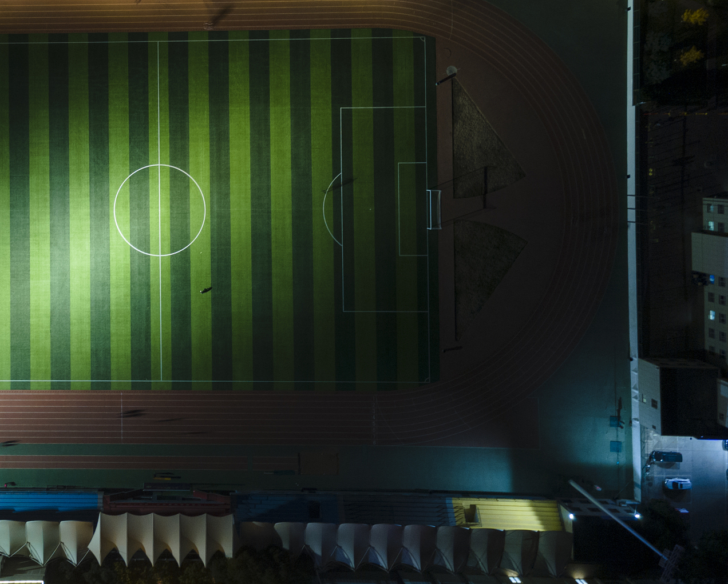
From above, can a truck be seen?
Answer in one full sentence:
No, the picture doesn't show any truck.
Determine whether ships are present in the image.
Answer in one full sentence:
No, the picture doesn't show any ship.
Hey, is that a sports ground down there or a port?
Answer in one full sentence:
It's a sports ground.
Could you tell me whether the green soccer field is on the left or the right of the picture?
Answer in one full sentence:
You can find the green soccer field on the left side of the picture.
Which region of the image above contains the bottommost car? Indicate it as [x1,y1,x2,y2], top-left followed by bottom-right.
[665,479,691,491]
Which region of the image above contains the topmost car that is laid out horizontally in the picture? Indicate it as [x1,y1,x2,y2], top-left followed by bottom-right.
[651,451,679,464]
